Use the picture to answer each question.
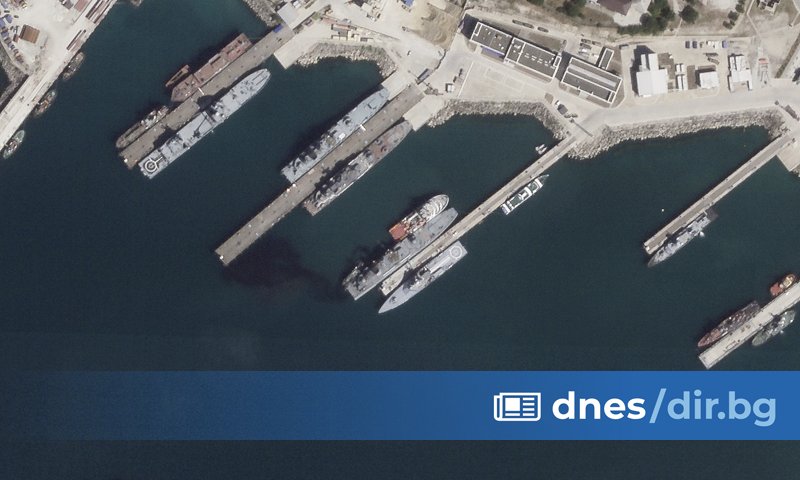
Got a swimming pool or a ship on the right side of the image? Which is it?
ship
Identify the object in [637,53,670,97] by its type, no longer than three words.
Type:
building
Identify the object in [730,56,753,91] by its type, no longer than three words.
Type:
building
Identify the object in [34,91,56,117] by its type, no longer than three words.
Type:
boat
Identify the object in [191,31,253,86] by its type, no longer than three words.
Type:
ship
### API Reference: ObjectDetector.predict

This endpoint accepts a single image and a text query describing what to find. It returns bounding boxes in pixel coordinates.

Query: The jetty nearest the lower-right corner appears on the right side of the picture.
[699,283,800,369]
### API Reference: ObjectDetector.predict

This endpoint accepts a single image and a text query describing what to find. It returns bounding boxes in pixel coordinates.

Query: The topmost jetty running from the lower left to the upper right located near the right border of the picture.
[645,131,796,254]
